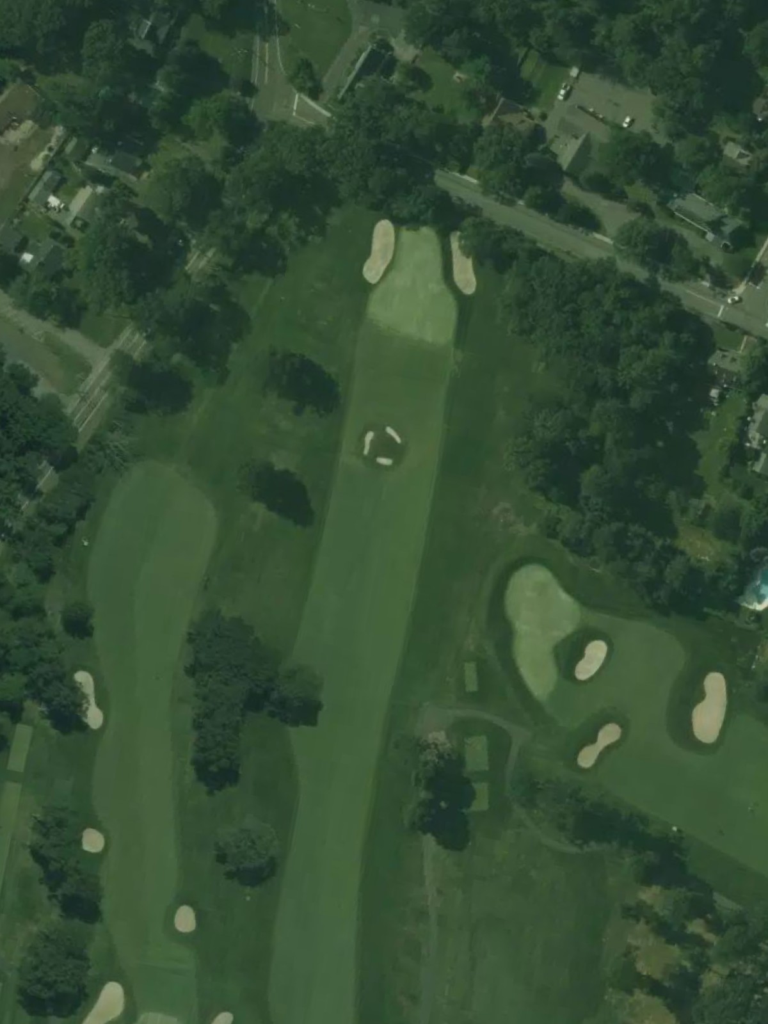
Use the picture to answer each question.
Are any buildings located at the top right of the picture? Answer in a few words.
Yes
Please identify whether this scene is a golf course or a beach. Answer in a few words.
golf course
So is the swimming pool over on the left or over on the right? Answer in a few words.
right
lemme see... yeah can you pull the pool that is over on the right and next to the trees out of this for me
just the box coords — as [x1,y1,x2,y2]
[740,562,768,611]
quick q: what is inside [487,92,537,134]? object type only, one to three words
house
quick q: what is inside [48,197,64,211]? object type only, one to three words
camper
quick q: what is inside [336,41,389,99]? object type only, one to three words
house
